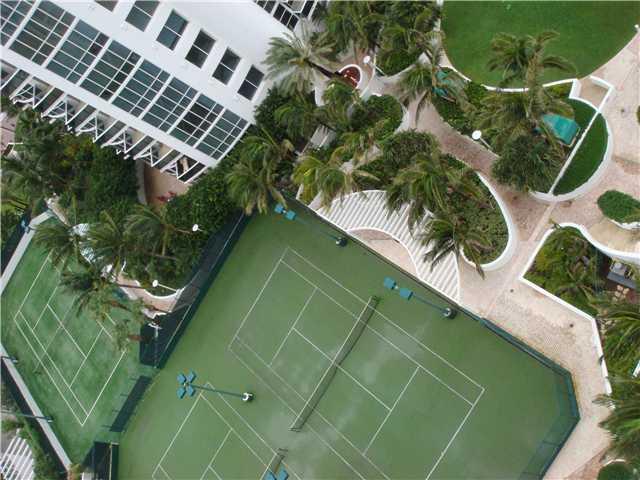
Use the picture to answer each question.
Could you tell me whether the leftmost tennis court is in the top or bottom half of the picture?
bottom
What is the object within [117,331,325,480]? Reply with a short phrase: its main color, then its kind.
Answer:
green tennis court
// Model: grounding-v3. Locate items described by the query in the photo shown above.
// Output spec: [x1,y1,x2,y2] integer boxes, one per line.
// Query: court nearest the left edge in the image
[0,212,191,480]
